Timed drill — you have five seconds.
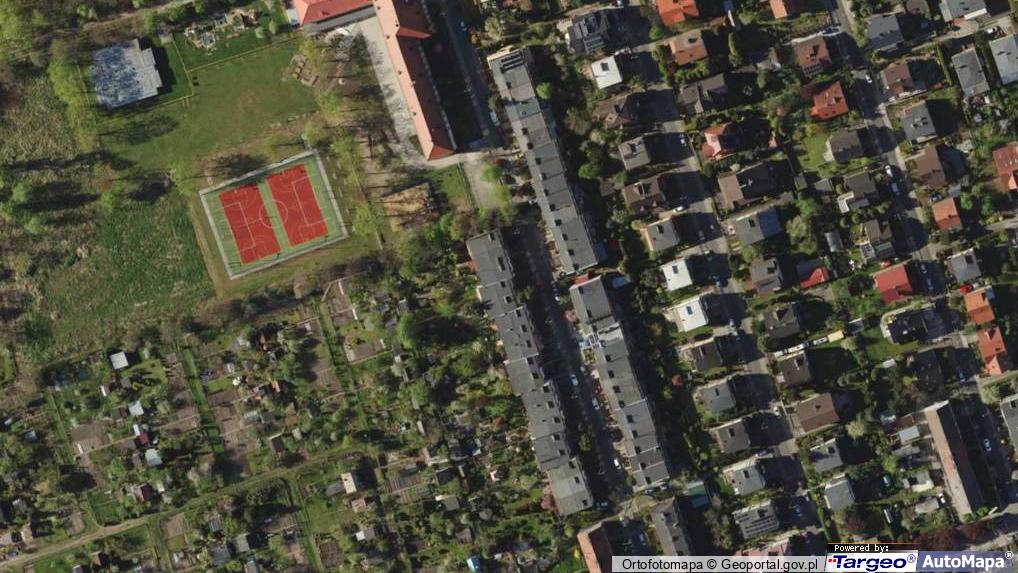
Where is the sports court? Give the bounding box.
[200,150,348,279]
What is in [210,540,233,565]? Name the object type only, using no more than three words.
shed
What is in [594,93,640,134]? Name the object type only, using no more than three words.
house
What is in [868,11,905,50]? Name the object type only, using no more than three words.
house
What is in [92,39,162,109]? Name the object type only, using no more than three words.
building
